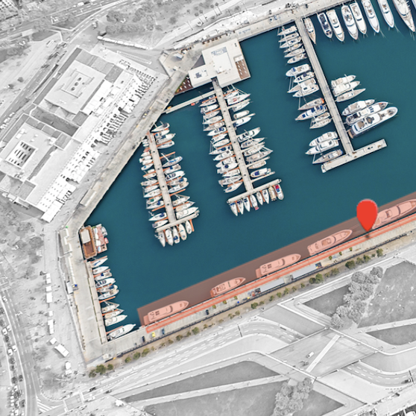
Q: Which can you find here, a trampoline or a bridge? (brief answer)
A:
bridge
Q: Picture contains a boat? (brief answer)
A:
Yes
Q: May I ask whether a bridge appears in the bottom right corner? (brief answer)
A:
Yes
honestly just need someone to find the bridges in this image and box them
[271,328,378,379]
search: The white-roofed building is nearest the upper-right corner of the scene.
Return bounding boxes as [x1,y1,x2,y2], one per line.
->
[189,38,251,91]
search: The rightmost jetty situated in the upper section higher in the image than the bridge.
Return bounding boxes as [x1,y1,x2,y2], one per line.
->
[295,20,387,172]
